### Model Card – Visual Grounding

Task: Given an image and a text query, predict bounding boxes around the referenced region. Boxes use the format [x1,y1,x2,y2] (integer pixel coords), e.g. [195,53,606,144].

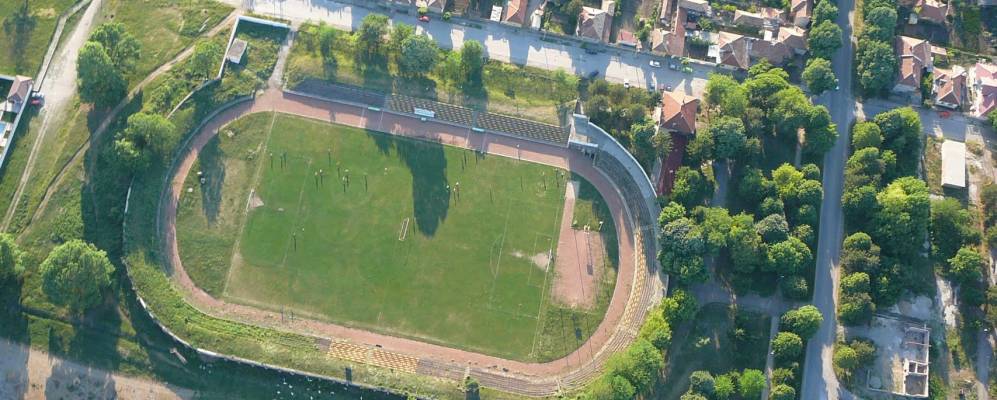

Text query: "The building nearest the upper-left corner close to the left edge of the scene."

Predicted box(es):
[7,75,34,105]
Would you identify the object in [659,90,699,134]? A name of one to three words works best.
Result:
house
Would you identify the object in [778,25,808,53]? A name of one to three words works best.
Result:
house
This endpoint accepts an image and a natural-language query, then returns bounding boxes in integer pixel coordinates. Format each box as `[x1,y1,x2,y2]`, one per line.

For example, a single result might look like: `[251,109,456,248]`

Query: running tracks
[156,91,629,381]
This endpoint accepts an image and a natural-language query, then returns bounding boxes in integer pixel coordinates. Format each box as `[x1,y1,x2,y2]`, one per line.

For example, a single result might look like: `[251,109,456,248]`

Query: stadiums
[283,77,667,397]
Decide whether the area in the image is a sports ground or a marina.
sports ground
